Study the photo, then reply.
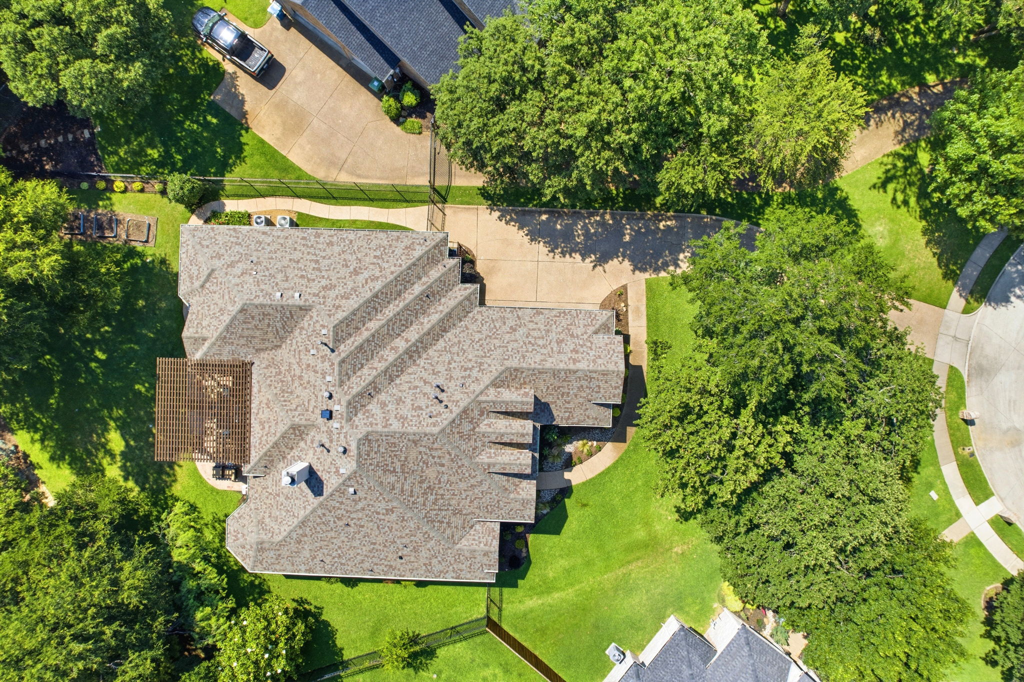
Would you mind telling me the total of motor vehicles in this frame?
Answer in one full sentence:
My tally gives 1 motor vehicle in this photo.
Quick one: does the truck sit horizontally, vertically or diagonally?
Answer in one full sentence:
The truck runs diagonally in the image.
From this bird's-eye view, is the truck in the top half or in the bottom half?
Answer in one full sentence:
You can find the truck in the top half.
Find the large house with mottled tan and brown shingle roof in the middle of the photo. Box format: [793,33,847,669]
[177,223,625,583]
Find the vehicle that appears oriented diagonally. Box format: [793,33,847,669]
[191,4,279,82]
